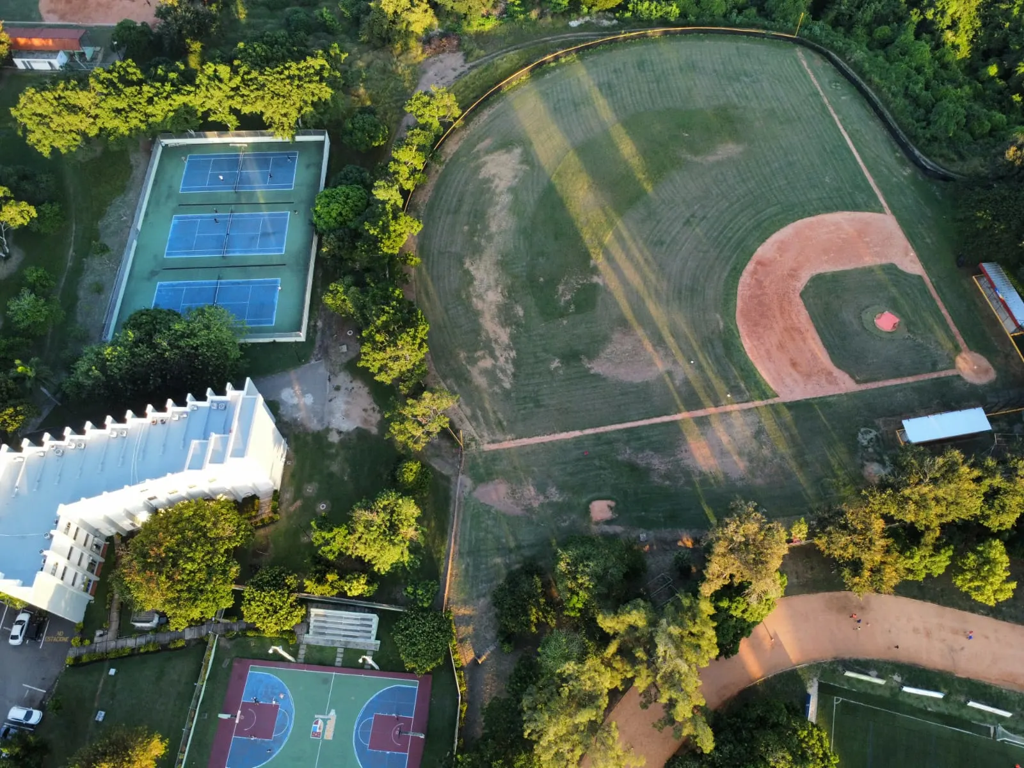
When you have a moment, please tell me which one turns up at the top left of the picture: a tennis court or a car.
tennis court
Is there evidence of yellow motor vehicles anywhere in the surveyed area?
No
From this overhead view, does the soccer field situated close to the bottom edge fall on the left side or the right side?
right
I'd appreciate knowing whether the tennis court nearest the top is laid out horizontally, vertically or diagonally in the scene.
horizontally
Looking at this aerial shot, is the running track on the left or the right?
right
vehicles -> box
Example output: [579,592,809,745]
[22,613,50,648]
[7,707,43,725]
[0,725,20,743]
[10,613,34,645]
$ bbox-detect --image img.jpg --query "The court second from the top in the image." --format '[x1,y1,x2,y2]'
[165,207,289,258]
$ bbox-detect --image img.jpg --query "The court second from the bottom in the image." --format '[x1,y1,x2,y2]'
[153,274,281,327]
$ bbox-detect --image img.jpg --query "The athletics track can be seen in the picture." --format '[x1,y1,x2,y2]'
[579,591,1024,768]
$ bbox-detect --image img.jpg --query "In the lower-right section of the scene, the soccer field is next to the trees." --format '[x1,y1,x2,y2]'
[814,680,1024,768]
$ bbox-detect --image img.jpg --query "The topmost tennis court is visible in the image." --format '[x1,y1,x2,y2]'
[179,146,297,193]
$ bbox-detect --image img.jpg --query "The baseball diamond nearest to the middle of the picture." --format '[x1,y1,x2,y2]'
[404,35,1024,605]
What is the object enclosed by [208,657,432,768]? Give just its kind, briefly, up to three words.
basketball court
